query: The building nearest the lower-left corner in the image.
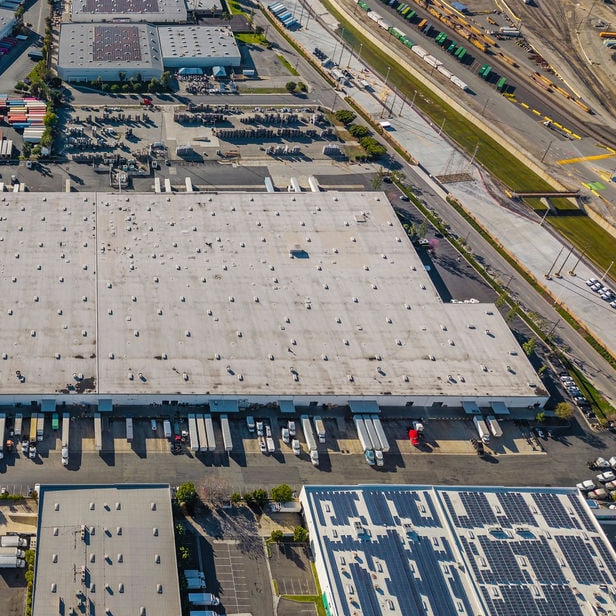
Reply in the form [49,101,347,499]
[31,483,182,616]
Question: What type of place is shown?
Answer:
industrial area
